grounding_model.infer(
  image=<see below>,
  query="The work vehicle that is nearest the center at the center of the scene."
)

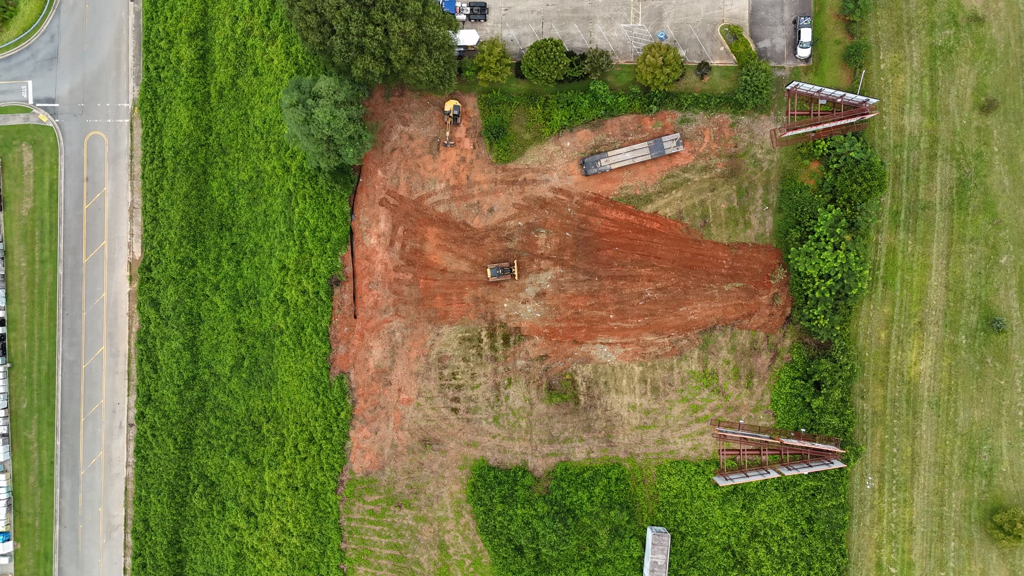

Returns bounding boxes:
[487,260,518,282]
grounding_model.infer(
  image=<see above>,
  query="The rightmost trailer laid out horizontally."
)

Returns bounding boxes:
[578,133,684,177]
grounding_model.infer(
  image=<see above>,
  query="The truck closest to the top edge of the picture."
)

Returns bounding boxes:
[429,0,489,22]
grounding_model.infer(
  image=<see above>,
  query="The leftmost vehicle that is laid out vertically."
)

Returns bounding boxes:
[445,97,462,147]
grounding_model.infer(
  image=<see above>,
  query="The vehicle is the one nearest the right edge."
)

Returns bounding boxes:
[793,16,816,60]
